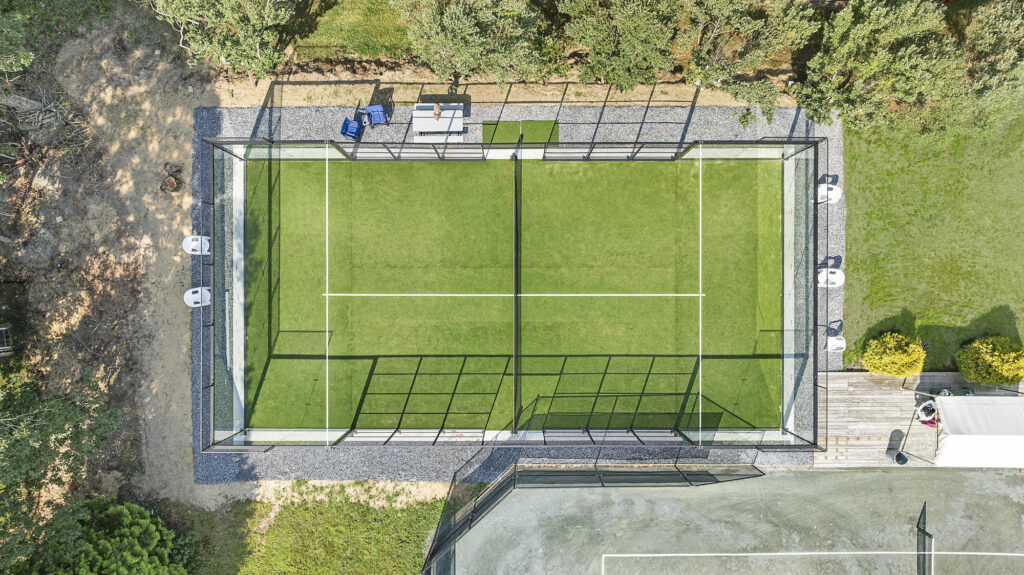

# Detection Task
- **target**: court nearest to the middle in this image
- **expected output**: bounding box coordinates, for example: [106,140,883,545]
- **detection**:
[234,147,794,441]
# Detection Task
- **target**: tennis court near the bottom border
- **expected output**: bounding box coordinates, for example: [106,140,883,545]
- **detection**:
[430,467,1024,575]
